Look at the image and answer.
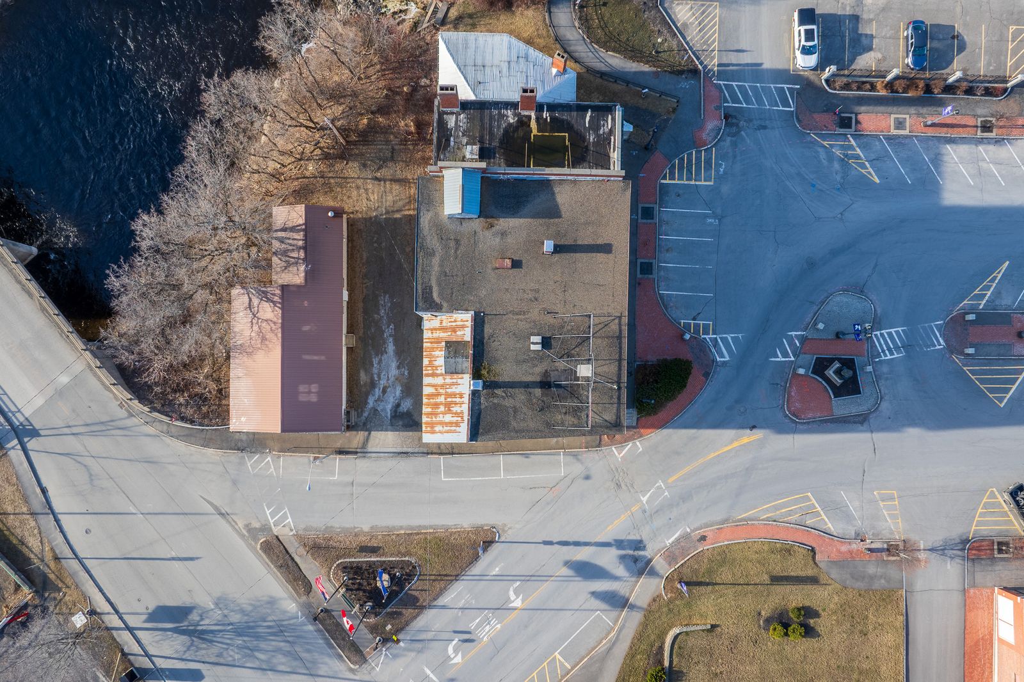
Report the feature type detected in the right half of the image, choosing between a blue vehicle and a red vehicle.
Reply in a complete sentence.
You can see a blue vehicle in the right half of the image.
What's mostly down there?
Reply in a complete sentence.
Most of the picture is covered by paved ground.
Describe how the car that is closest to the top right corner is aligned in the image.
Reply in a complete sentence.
Seen from above, the car that is closest to the top right corner lies up and down.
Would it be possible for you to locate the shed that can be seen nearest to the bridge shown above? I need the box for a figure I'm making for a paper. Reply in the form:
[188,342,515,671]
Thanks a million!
[229,204,353,434]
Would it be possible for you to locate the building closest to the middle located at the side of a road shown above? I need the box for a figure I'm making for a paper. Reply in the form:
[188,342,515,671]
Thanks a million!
[414,162,631,443]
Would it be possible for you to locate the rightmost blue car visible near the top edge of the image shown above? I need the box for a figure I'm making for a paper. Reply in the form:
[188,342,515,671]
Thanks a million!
[905,18,932,71]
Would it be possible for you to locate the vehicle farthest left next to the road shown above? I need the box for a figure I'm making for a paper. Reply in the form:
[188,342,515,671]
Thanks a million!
[793,9,823,71]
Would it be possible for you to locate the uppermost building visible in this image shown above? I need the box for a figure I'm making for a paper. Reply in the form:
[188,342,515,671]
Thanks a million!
[438,31,577,103]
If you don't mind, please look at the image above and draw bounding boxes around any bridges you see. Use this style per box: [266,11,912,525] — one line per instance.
[0,230,231,433]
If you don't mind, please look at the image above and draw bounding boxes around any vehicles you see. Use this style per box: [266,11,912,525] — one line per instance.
[905,18,932,71]
[793,9,823,71]
[1006,479,1024,520]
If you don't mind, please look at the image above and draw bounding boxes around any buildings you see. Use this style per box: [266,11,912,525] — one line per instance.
[229,204,353,434]
[414,162,631,443]
[994,587,1024,682]
[438,31,577,103]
